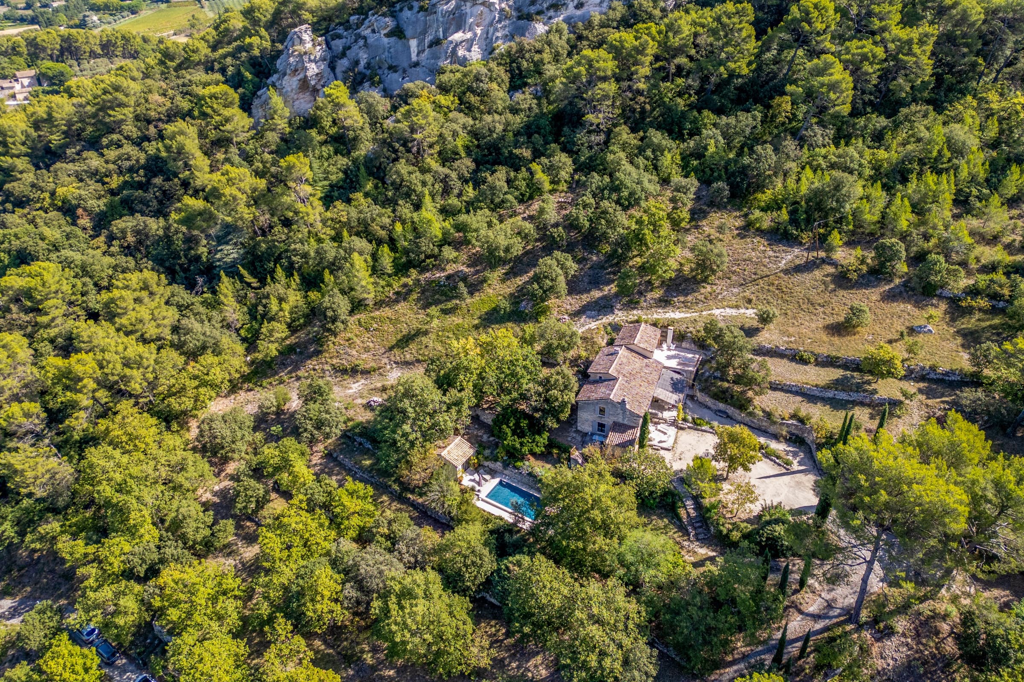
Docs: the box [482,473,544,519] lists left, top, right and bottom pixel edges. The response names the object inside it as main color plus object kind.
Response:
blue swimming pool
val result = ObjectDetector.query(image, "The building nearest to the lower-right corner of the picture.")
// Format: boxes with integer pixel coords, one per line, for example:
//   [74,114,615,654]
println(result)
[575,322,705,460]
